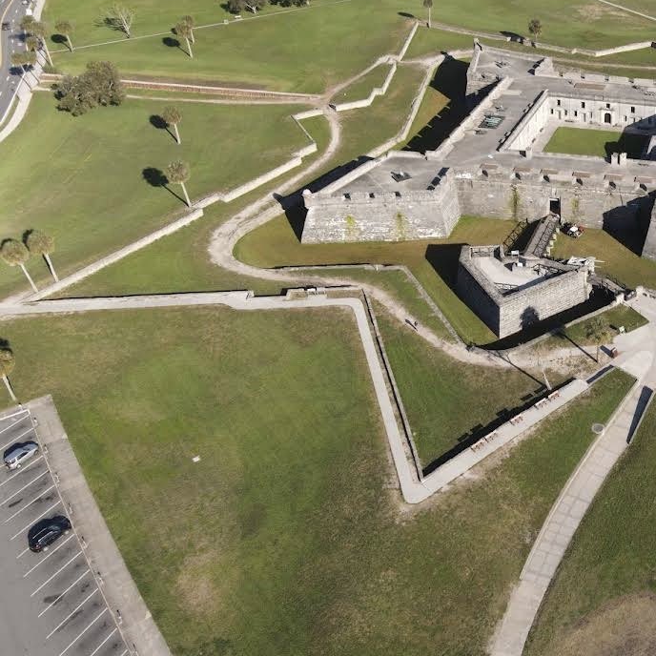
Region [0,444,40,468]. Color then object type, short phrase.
gray car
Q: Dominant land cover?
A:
grass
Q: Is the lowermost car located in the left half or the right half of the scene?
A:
left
